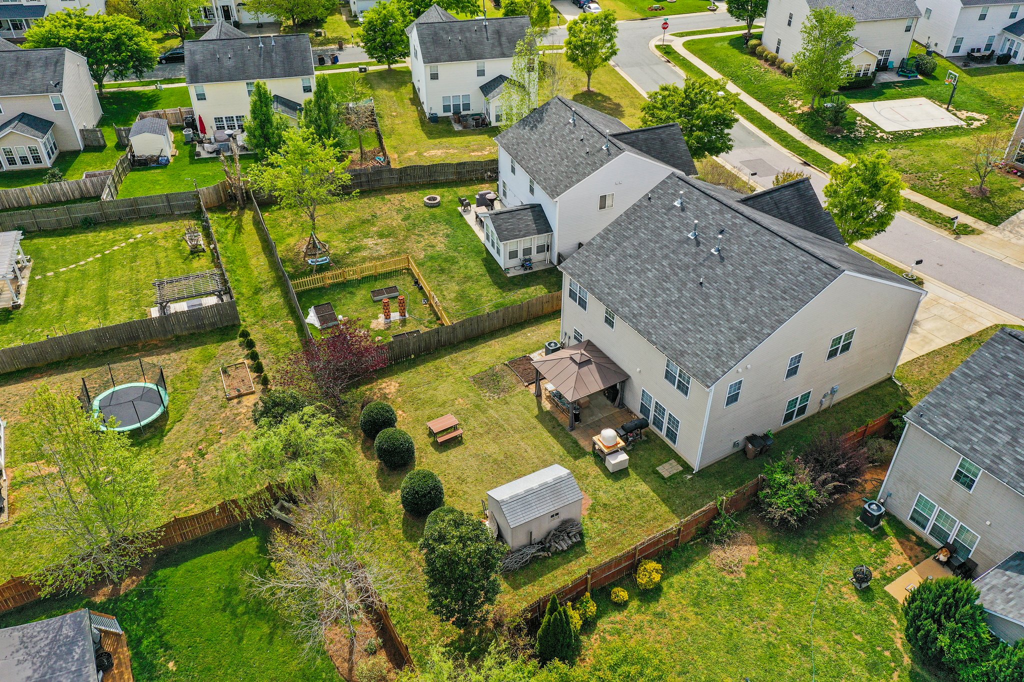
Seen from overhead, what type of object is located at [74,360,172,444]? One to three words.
trampoline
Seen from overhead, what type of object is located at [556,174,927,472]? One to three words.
house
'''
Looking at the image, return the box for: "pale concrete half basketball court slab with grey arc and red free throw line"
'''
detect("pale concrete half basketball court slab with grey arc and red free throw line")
[851,96,971,131]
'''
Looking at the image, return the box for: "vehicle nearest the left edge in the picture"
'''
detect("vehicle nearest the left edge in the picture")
[157,47,187,64]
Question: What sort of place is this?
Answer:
residential area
